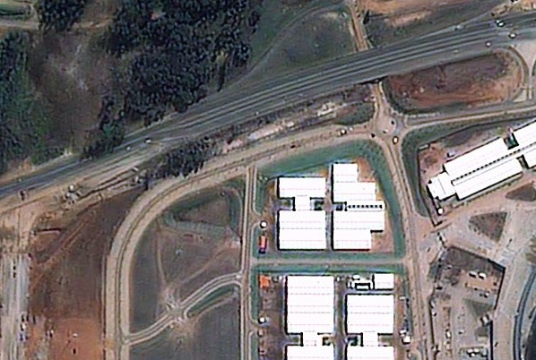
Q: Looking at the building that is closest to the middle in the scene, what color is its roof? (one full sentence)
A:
From above, the roof of the building that is closest to the middle looks white.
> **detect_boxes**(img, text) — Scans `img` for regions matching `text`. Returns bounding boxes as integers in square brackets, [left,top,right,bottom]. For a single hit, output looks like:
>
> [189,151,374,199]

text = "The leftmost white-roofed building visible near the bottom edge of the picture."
[287,276,334,360]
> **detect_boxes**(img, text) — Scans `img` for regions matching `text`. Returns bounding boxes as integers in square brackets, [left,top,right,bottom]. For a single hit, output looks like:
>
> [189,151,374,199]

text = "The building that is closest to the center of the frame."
[279,177,326,250]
